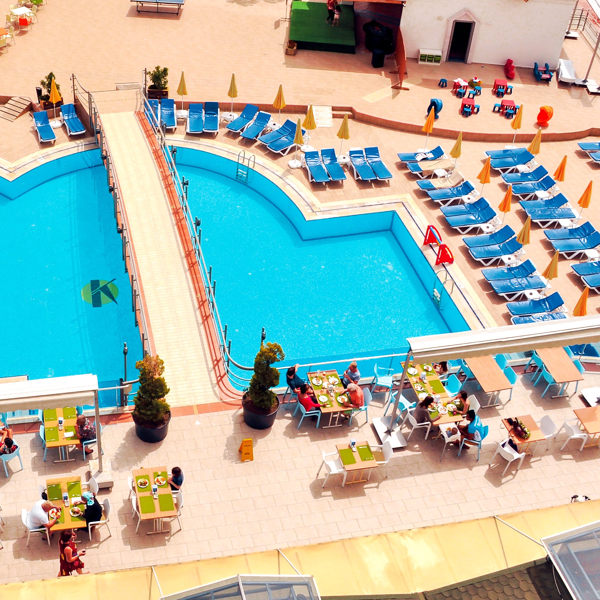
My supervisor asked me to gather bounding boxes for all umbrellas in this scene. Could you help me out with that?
[273,83,284,123]
[508,213,531,265]
[540,249,561,295]
[298,103,315,150]
[176,70,187,117]
[571,179,594,226]
[526,126,541,169]
[570,285,590,316]
[442,132,462,177]
[549,153,568,198]
[336,112,350,156]
[476,156,492,194]
[488,184,512,233]
[224,71,238,116]
[502,104,523,148]
[286,116,303,167]
[416,106,433,151]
